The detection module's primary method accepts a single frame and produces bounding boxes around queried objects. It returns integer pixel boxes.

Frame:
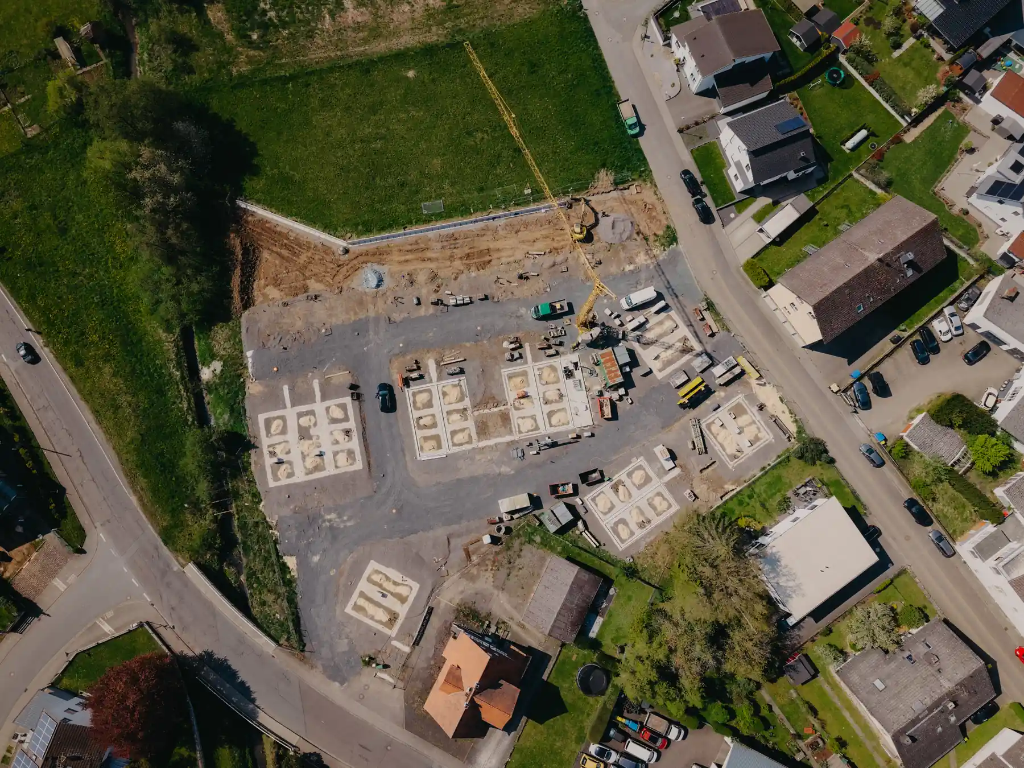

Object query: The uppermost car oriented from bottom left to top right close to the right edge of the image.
[953,284,981,313]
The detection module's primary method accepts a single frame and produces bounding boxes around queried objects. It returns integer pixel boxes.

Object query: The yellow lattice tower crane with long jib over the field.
[462,39,618,347]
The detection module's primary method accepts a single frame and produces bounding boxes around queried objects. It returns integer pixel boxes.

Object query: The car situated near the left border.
[18,340,40,365]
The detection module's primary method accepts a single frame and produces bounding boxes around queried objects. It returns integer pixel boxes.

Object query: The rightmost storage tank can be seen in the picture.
[840,123,871,153]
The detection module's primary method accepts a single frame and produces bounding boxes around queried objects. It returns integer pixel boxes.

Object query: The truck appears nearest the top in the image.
[617,99,643,141]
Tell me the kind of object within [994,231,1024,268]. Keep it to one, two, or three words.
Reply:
house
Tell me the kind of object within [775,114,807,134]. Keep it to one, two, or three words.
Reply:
solar panel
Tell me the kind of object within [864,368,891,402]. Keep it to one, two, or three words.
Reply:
truck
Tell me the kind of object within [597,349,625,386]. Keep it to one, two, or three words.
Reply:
shipping container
